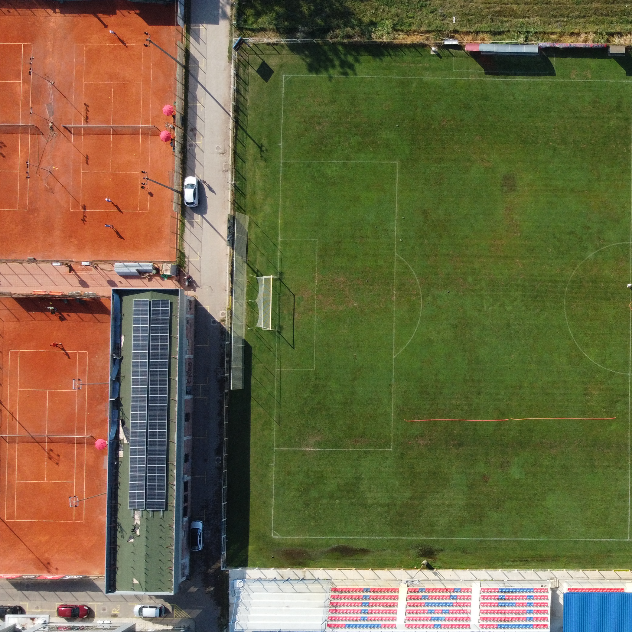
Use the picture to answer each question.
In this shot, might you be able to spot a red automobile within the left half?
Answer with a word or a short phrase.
Yes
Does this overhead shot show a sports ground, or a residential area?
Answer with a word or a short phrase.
sports ground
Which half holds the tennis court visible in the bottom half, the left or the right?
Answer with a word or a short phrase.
left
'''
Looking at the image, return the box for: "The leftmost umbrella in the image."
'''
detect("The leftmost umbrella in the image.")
[95,437,109,451]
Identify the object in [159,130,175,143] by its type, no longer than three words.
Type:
umbrella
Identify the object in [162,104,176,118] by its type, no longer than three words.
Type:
umbrella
